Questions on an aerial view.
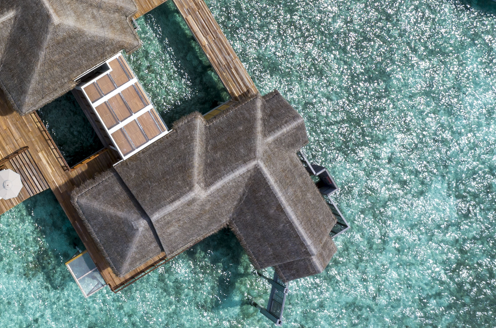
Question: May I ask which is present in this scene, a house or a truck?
house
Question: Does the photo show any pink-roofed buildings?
No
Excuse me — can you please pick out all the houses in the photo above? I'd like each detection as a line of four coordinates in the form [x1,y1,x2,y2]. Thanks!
[0,0,142,117]
[73,90,339,283]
